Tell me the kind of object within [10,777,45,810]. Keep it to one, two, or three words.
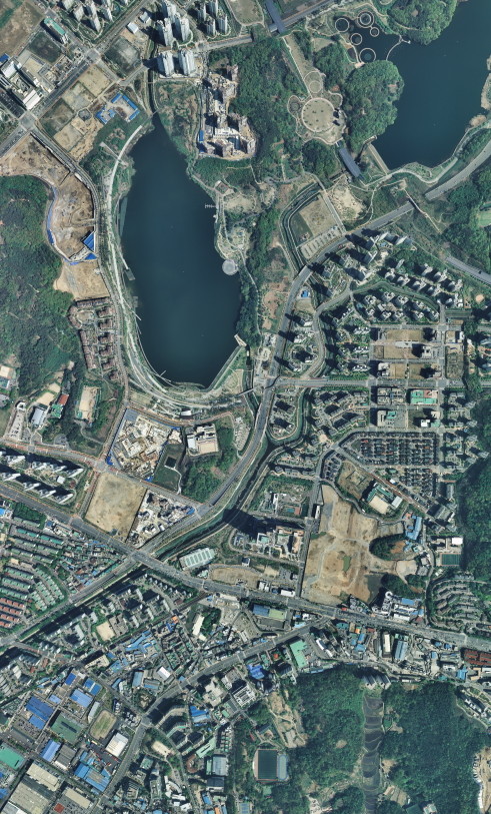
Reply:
building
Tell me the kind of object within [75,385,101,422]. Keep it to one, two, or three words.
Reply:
sports field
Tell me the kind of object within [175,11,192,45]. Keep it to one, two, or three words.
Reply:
building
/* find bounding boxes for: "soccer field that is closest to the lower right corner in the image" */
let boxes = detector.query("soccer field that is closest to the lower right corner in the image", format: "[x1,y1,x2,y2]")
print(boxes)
[254,749,278,781]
